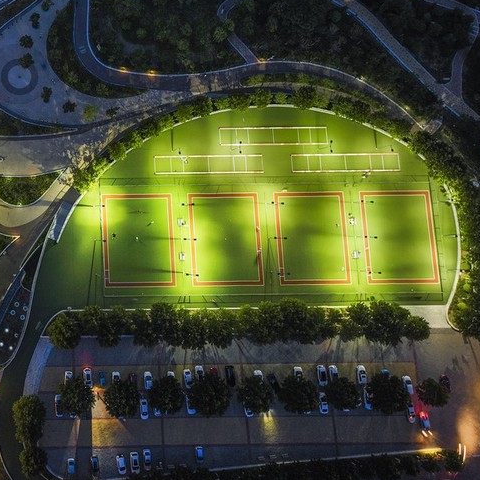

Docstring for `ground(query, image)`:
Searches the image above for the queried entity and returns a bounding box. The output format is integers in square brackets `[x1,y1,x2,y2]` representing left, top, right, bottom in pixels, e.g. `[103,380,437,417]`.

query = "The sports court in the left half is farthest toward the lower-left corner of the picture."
[102,194,176,287]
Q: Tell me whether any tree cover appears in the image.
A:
Yes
